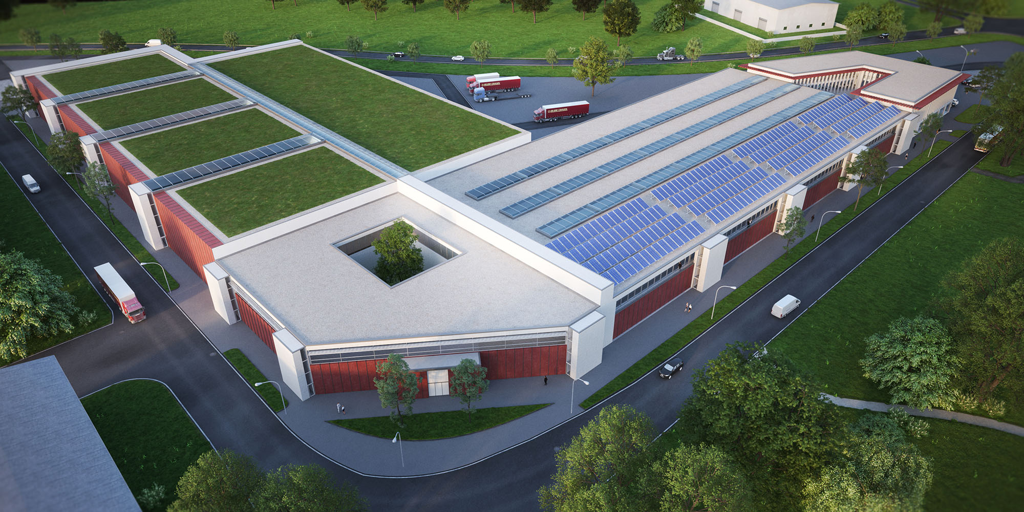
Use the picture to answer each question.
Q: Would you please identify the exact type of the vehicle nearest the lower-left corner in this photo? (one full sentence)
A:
It looks like the vehicle nearest the lower-left corner is a truck.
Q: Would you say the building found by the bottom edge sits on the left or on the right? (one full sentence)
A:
The building found by the bottom edge sits on the left side.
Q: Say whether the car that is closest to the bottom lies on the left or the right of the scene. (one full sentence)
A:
You can find the car that is closest to the bottom on the right side of the picture.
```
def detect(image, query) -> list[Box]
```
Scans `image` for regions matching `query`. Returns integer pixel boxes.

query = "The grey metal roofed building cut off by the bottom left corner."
[0,354,144,512]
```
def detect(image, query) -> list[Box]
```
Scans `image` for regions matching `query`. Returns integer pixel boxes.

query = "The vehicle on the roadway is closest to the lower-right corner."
[774,296,800,318]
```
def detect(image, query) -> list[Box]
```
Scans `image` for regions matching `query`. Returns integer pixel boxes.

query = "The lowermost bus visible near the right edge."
[973,127,999,152]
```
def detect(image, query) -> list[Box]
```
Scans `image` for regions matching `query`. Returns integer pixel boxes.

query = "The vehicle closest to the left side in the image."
[23,175,40,192]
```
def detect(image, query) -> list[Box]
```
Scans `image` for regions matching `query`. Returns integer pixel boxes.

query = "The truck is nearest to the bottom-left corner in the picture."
[95,263,146,325]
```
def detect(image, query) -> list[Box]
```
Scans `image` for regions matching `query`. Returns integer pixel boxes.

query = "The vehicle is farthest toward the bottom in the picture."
[660,357,685,379]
